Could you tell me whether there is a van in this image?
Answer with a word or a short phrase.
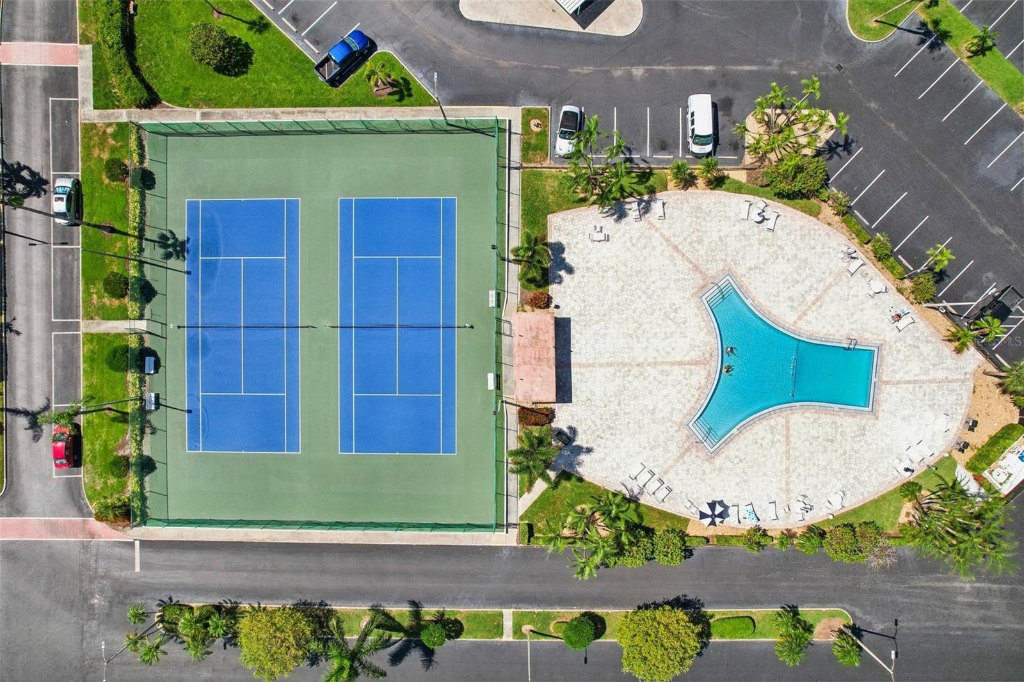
Yes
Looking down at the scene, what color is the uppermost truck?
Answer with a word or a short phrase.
blue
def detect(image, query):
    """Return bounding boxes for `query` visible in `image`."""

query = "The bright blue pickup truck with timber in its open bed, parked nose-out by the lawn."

[316,28,376,84]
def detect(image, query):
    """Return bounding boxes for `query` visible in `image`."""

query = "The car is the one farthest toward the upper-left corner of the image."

[48,175,77,224]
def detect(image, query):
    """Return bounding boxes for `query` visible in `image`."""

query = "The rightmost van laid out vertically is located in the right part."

[688,95,718,159]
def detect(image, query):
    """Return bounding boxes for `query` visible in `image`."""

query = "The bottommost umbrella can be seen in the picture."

[698,499,726,527]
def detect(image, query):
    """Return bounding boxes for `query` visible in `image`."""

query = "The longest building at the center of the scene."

[514,313,556,406]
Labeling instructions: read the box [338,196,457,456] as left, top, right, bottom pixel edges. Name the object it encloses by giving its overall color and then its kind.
blue tennis court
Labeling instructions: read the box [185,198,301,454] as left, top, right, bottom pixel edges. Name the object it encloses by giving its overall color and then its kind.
blue tennis court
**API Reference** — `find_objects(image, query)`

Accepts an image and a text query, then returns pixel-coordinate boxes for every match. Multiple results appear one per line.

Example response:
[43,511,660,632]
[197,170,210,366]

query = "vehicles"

[688,95,718,159]
[962,276,1023,330]
[316,28,376,84]
[48,175,77,224]
[556,104,581,156]
[47,422,75,471]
